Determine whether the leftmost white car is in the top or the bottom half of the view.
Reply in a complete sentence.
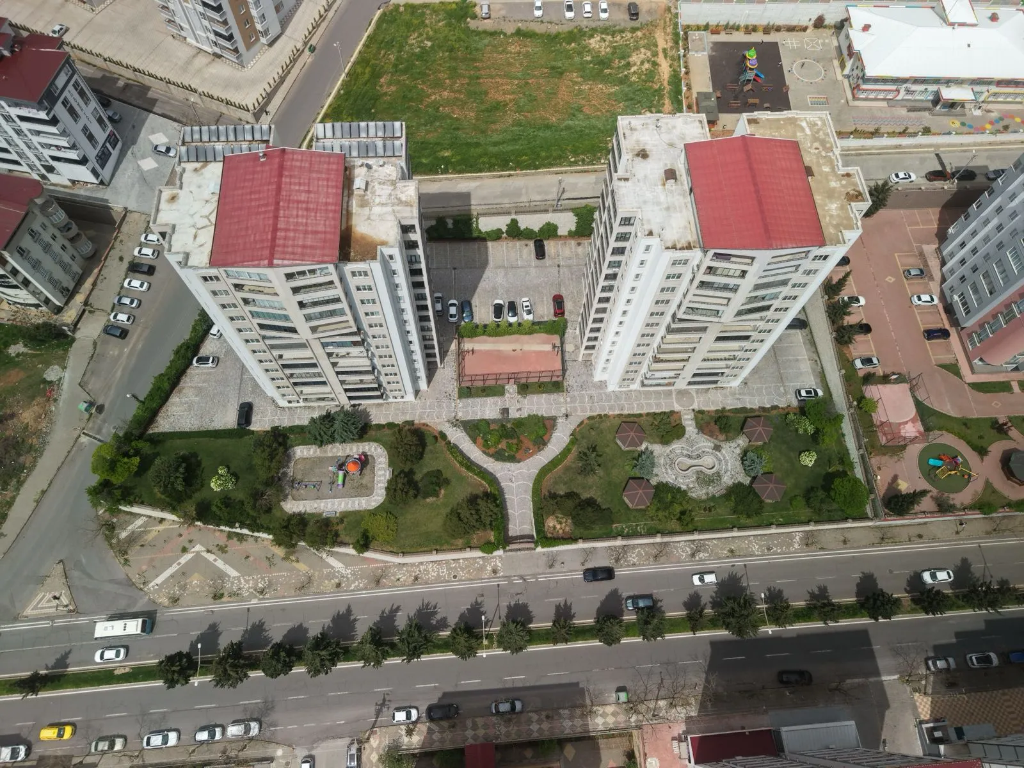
Seen from above, the leftmost white car lies in the bottom half of the view.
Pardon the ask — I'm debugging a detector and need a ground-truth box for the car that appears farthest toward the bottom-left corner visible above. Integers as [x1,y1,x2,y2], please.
[0,743,32,763]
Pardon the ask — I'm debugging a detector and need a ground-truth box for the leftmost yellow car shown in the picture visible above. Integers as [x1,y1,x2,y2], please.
[35,723,75,741]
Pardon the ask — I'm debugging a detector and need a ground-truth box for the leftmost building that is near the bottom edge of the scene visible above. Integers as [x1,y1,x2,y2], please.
[684,728,779,768]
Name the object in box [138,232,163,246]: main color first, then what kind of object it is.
white car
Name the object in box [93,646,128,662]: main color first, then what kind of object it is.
white car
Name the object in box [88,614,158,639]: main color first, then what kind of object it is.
white bus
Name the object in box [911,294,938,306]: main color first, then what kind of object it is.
white vehicle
